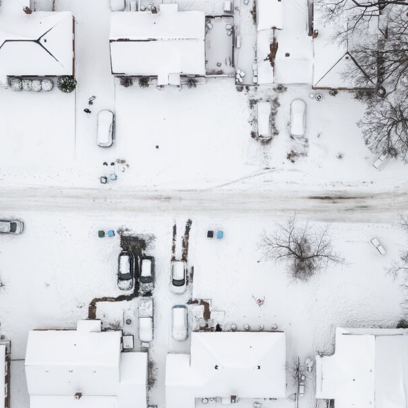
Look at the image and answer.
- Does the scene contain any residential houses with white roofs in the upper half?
Yes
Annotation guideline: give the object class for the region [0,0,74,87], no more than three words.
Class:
house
